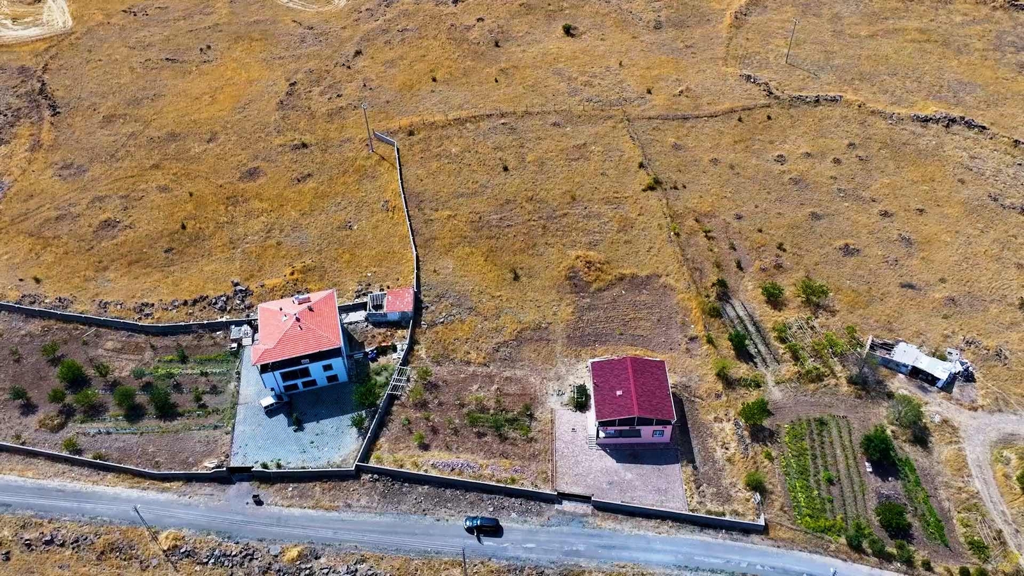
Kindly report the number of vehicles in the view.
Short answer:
2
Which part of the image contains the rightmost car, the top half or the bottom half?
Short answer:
bottom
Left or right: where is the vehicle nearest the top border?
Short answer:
left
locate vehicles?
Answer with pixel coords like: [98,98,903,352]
[258,395,291,415]
[462,517,501,544]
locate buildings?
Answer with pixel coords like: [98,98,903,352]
[367,286,416,324]
[585,355,678,450]
[248,288,348,396]
[862,338,966,392]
